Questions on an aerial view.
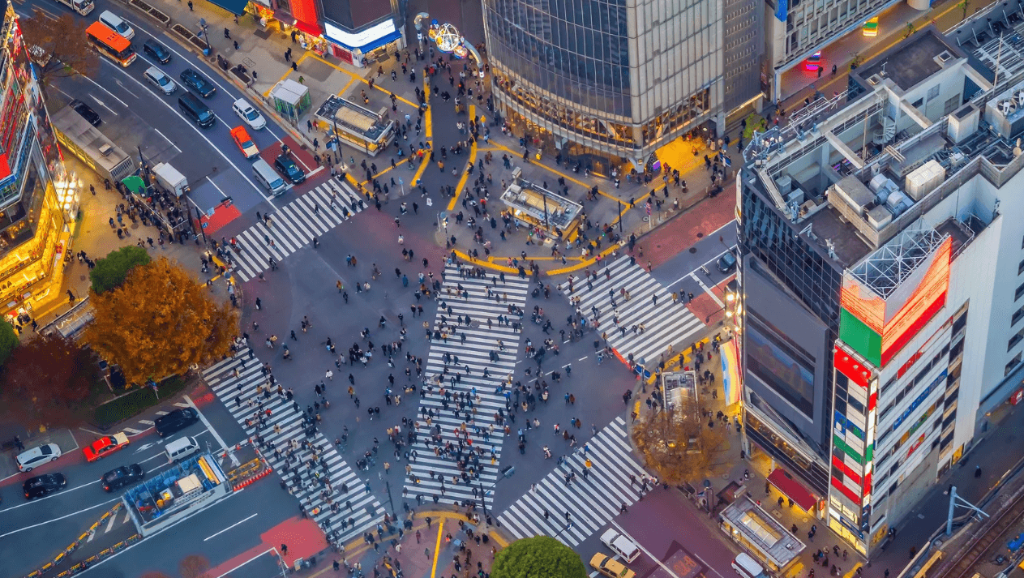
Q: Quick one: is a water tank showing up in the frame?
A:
Yes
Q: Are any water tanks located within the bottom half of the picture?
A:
No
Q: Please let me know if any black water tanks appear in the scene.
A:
No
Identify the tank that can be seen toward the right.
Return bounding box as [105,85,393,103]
[906,160,945,205]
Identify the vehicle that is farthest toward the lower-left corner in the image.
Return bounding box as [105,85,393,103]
[19,470,67,497]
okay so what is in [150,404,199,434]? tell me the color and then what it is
black vehicle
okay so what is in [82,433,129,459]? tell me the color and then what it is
red car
